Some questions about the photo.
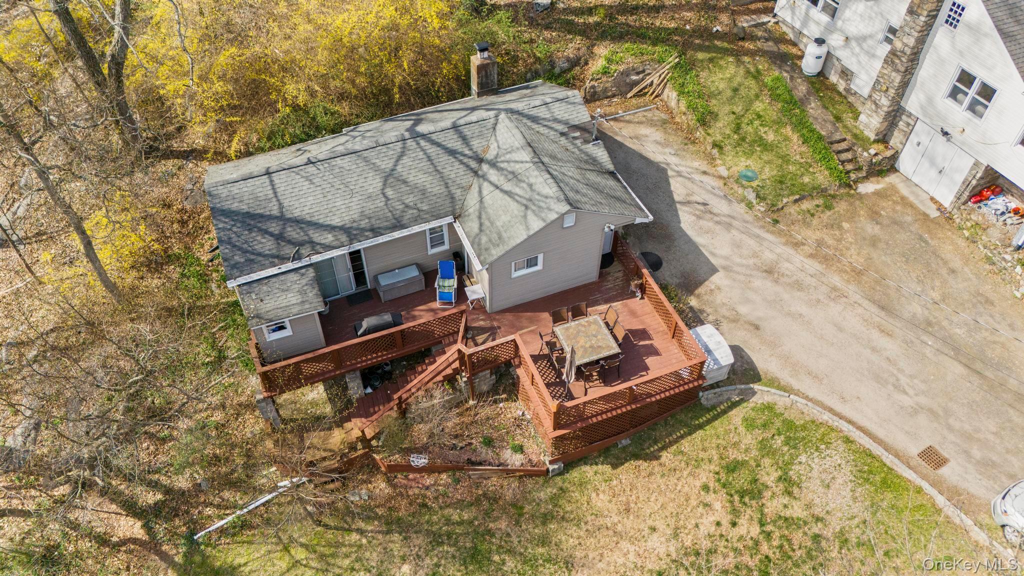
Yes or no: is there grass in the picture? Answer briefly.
Yes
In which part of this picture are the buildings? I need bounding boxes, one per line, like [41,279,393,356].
[769,0,1024,210]
[202,35,657,366]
